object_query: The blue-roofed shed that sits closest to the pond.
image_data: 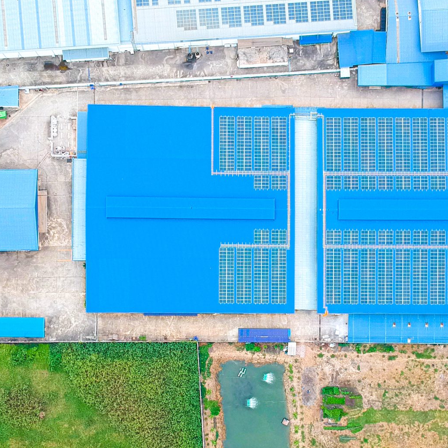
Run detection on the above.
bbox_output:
[239,328,291,342]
